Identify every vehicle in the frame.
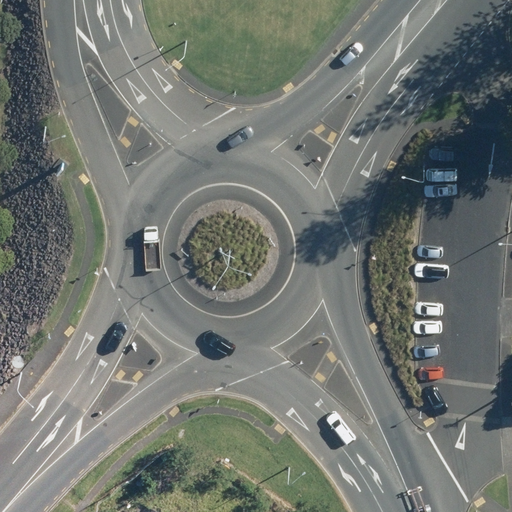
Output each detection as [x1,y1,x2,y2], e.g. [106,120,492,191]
[418,367,446,382]
[102,322,130,356]
[222,127,256,152]
[142,226,160,272]
[408,486,434,512]
[204,331,237,356]
[414,345,440,360]
[328,410,356,444]
[426,168,458,182]
[414,264,450,278]
[425,183,458,198]
[338,40,364,68]
[428,148,455,162]
[424,386,448,415]
[415,302,444,316]
[417,246,444,259]
[414,321,443,335]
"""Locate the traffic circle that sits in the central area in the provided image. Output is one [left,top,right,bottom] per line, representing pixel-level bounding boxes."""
[161,182,298,319]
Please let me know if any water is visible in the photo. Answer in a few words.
No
